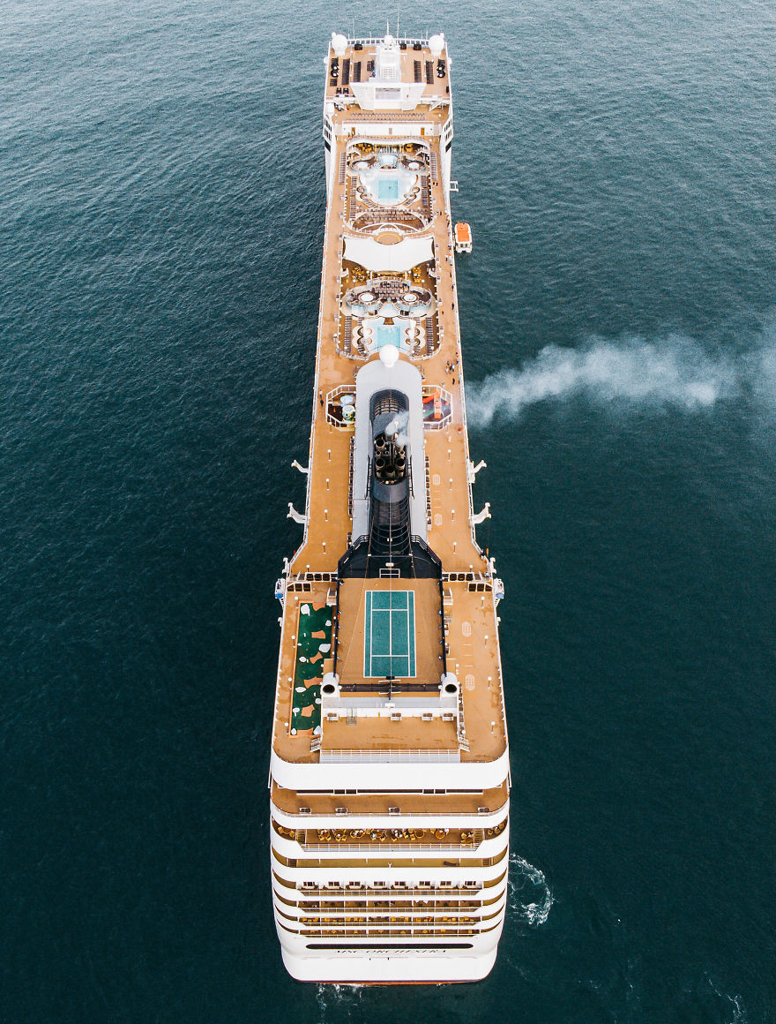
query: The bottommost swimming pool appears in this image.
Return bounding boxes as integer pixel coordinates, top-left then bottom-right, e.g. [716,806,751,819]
[376,322,403,354]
